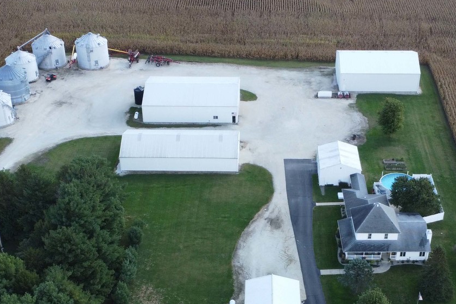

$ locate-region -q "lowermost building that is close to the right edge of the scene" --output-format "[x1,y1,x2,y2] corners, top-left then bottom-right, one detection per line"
[335,171,434,262]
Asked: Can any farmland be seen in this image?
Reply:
Yes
